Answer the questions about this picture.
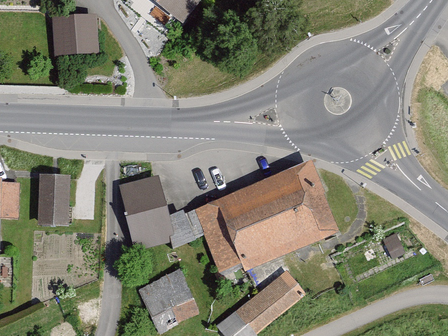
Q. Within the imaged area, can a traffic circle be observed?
Yes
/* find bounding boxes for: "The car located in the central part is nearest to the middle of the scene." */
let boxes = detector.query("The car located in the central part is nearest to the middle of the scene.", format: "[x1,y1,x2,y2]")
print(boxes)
[210,166,224,190]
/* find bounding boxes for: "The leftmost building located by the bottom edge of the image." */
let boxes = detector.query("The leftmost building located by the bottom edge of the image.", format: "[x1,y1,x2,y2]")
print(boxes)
[139,270,198,334]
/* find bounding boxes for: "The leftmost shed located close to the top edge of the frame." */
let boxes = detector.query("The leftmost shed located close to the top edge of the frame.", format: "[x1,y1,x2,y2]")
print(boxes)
[50,14,99,55]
